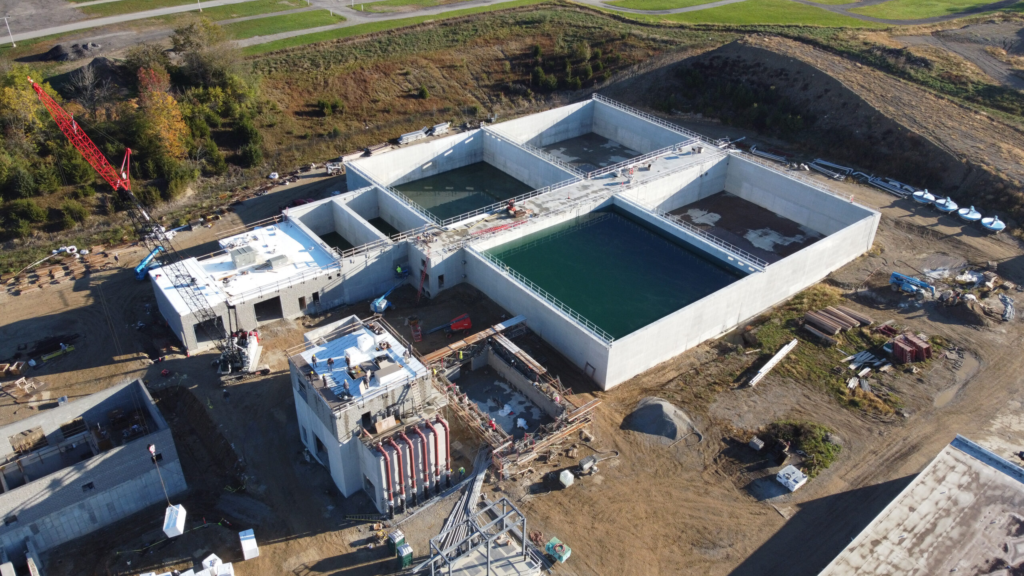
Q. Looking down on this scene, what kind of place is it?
industrial area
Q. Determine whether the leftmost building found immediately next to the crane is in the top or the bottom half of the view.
bottom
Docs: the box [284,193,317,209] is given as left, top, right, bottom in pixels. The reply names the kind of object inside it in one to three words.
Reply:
vehicle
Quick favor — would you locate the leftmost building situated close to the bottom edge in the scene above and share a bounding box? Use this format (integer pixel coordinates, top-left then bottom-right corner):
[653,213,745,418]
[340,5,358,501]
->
[0,379,190,569]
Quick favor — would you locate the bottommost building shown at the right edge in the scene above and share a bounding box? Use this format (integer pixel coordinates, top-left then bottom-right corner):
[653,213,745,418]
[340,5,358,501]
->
[801,430,1024,576]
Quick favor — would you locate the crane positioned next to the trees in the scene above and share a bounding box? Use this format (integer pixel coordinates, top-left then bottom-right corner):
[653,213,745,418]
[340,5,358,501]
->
[21,74,274,464]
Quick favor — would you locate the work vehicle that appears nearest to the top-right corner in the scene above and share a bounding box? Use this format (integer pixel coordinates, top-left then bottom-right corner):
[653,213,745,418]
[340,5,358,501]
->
[892,269,946,305]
